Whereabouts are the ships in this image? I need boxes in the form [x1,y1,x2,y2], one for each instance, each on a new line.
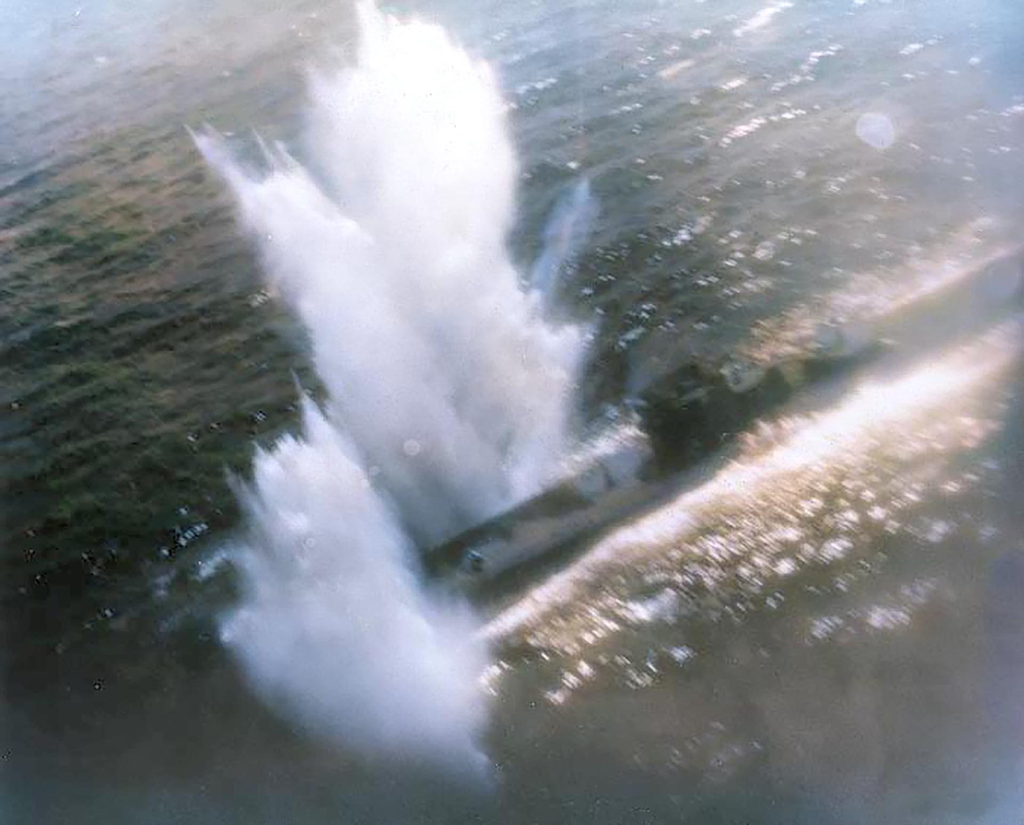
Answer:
[402,340,904,591]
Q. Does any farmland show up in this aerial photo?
No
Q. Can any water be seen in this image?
Yes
